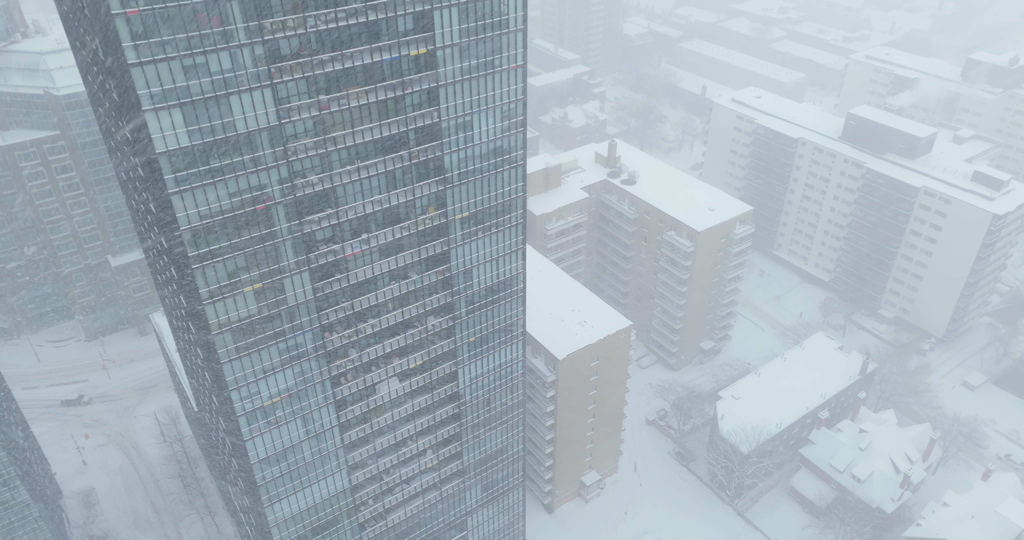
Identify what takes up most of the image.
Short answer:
buildings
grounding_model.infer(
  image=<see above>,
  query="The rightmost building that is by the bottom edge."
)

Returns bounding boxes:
[908,455,1024,540]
